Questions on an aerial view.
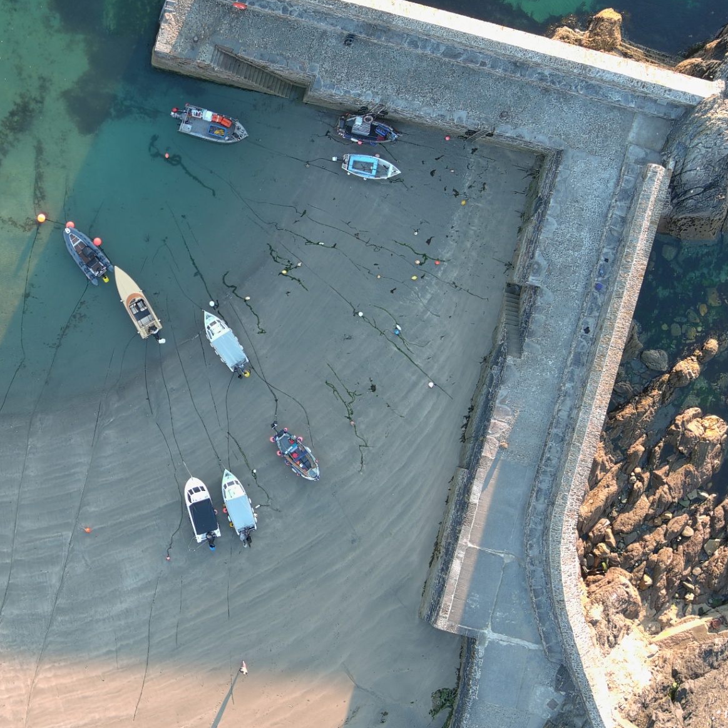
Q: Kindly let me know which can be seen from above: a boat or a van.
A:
boat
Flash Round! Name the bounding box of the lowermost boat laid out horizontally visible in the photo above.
[329,153,401,178]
